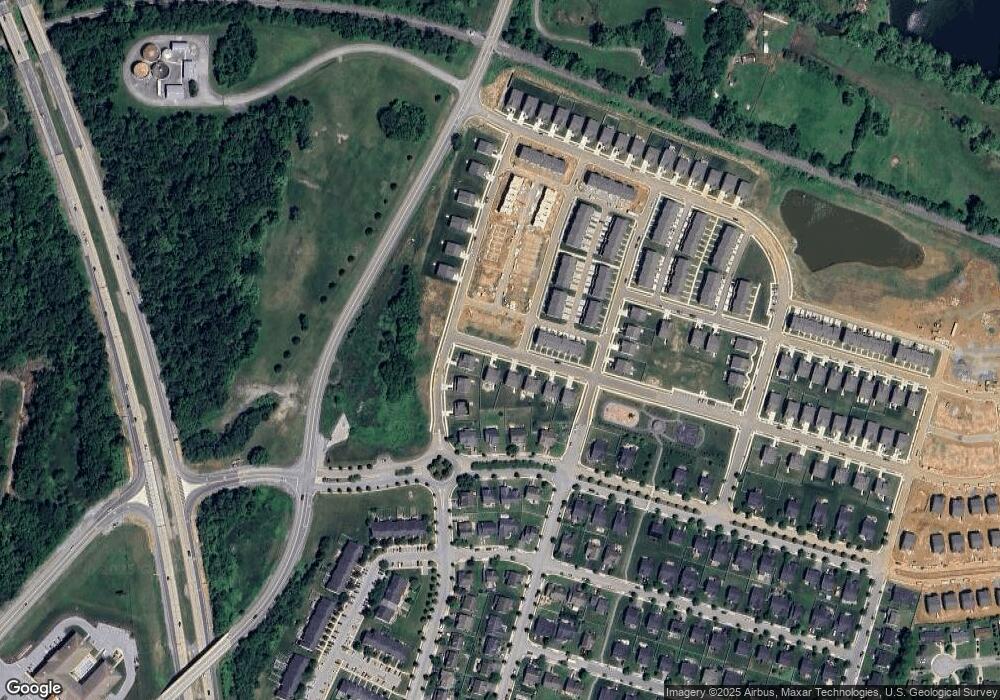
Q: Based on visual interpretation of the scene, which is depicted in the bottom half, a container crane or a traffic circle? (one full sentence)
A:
You can see a traffic circle in the bottom half.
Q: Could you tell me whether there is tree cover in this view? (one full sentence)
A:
Yes, tree cover can be seen from above here.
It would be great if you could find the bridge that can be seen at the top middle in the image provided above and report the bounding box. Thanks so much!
[478,21,506,62]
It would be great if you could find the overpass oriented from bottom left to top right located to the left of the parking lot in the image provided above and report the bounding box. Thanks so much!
[155,632,234,700]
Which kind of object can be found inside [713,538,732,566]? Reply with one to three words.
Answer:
house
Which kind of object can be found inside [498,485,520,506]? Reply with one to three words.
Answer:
house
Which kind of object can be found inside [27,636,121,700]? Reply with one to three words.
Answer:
building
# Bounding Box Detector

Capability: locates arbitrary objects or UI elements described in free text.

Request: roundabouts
[415,443,466,493]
